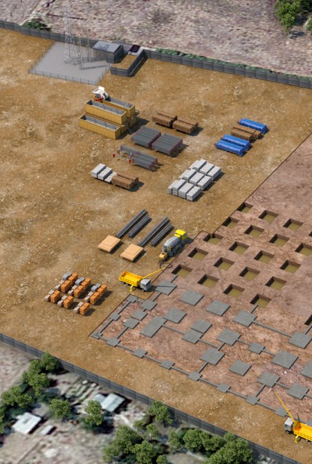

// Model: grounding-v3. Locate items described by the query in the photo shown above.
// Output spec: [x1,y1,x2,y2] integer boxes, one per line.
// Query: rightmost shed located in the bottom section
[101,393,126,420]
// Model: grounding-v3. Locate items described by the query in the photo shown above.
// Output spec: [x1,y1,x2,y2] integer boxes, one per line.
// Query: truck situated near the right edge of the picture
[275,390,312,441]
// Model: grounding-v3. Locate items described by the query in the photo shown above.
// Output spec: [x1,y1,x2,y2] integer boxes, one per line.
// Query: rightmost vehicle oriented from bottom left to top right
[164,228,192,259]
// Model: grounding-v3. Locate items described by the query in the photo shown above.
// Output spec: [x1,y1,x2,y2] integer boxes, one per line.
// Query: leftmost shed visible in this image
[11,411,42,442]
